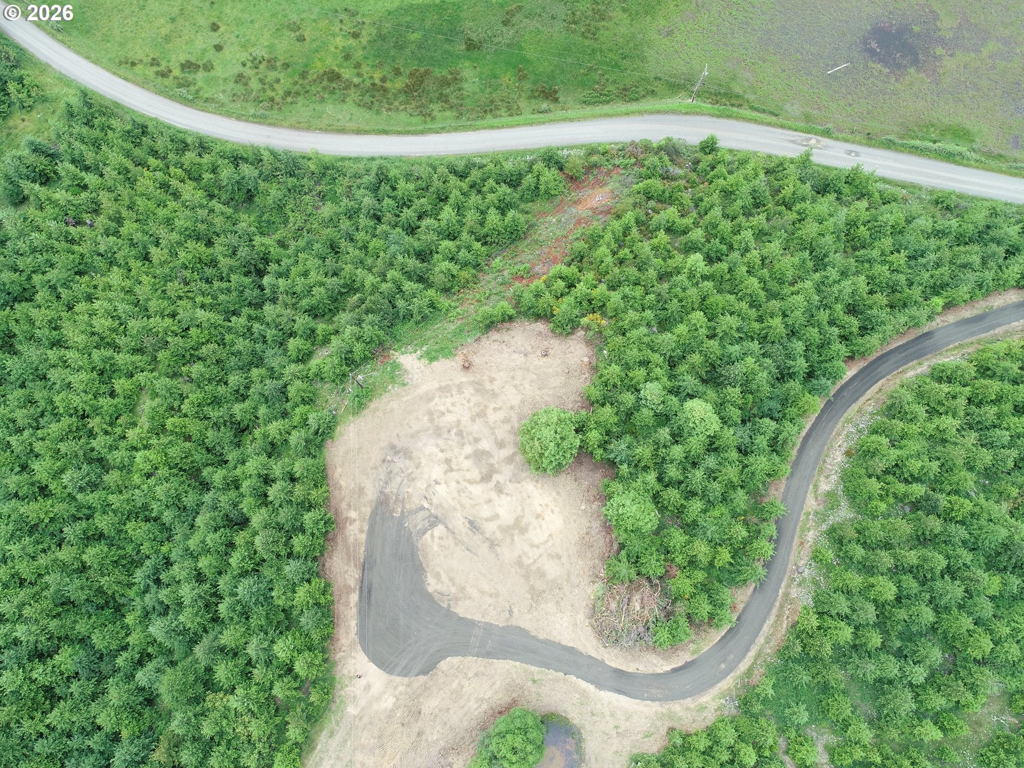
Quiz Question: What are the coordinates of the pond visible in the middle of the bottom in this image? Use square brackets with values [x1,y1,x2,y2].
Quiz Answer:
[531,713,583,768]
